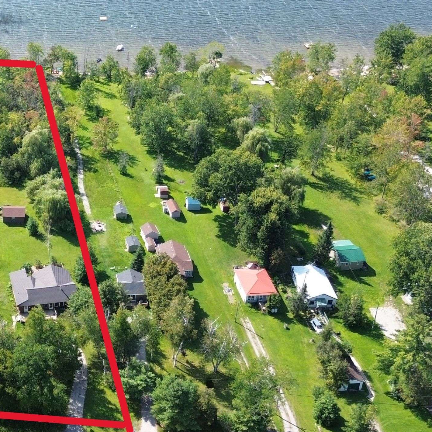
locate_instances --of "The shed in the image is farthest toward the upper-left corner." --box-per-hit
[0,205,26,223]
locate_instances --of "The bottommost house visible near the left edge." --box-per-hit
[9,261,79,331]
